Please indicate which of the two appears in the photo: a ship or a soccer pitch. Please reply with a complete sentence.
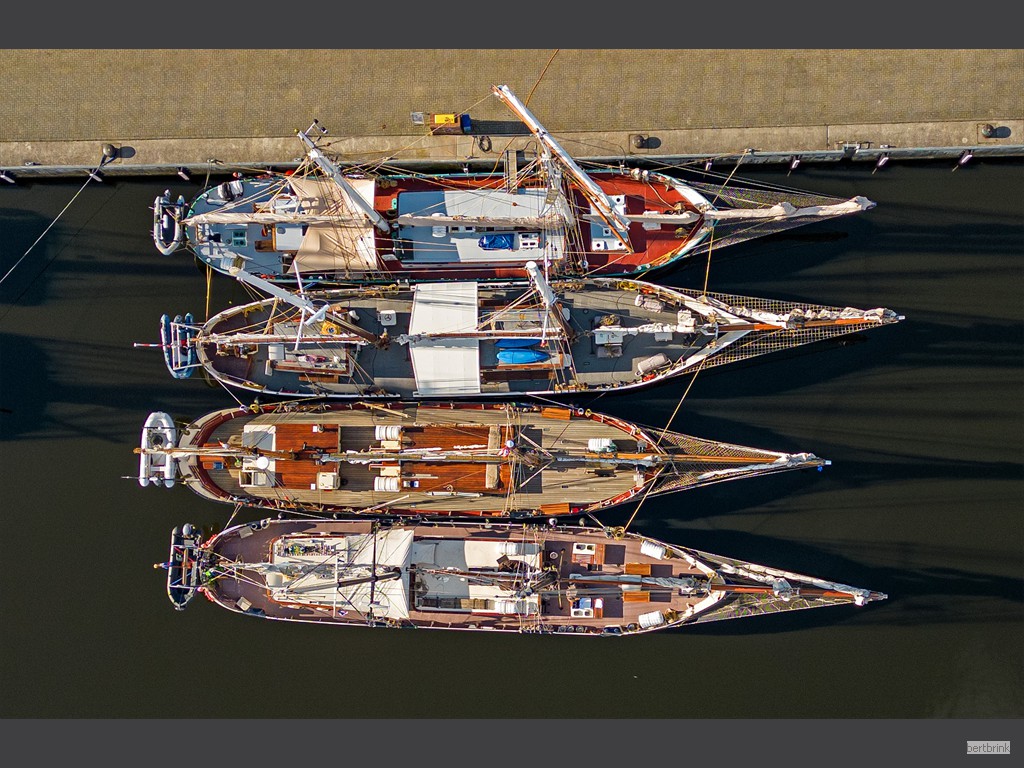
The one in the frame is a ship.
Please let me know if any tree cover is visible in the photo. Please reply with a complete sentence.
No, the scene doesn't show any tree cover.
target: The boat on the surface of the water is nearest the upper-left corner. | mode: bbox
[146,189,184,252]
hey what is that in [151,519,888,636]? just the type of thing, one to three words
ship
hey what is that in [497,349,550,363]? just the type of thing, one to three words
boat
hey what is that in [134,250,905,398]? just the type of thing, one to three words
ship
